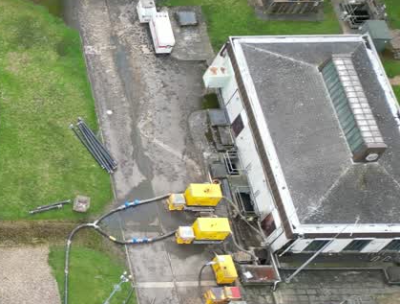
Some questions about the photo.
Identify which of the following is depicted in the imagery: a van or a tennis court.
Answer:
van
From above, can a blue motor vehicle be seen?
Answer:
No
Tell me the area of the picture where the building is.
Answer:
right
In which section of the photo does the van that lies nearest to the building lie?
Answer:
top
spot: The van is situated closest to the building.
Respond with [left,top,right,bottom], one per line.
[147,13,183,60]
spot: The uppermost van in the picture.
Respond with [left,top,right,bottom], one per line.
[133,0,164,30]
